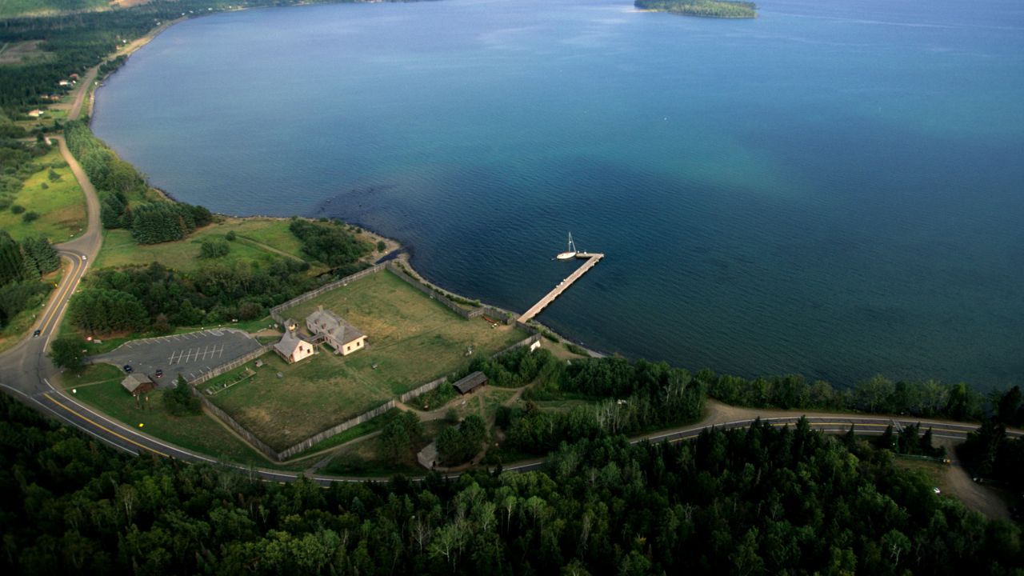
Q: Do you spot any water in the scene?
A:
Yes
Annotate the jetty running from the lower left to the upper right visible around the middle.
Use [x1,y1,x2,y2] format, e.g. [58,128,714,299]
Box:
[516,255,606,325]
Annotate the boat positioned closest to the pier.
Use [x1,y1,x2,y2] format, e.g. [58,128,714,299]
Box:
[556,235,576,258]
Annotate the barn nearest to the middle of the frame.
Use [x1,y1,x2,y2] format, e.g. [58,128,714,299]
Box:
[451,367,488,393]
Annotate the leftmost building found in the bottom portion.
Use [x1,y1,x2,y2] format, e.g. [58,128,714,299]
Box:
[123,370,156,398]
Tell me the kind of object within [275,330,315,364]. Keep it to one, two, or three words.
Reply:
building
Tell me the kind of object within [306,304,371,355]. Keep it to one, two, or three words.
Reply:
building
